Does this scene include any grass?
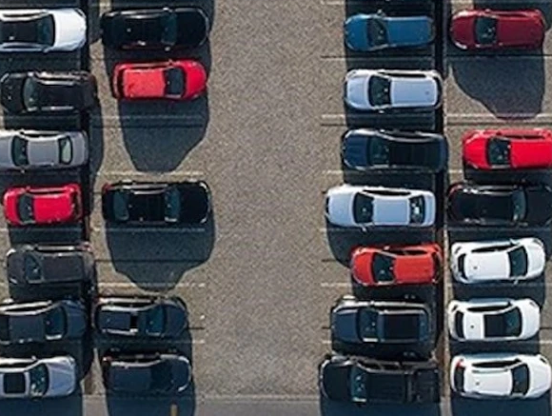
No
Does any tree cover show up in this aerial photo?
No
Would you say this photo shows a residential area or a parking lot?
parking lot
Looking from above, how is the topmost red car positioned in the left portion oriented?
from left to right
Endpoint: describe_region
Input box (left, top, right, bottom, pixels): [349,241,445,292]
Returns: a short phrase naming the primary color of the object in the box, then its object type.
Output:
red car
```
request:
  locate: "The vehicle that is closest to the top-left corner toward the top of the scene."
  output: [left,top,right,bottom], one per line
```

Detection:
[0,6,88,55]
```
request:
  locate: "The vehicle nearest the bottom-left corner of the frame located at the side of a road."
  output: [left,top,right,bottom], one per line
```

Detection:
[0,352,80,405]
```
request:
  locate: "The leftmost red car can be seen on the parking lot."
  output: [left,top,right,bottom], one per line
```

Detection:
[2,183,83,231]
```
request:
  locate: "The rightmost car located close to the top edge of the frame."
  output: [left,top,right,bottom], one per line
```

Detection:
[448,7,550,53]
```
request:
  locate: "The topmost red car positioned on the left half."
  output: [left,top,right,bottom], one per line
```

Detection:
[111,58,208,107]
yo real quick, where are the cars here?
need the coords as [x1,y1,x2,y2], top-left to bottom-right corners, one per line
[330,300,433,352]
[448,238,547,288]
[101,181,212,228]
[0,130,88,176]
[6,241,98,294]
[101,352,193,403]
[339,128,450,176]
[446,183,552,234]
[448,353,552,406]
[343,7,438,56]
[0,298,87,349]
[100,6,209,53]
[445,296,542,347]
[93,295,189,348]
[324,184,437,233]
[349,241,445,292]
[0,352,80,405]
[460,128,552,177]
[344,67,444,115]
[2,183,83,231]
[0,6,88,55]
[448,7,550,53]
[111,58,208,107]
[0,70,98,120]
